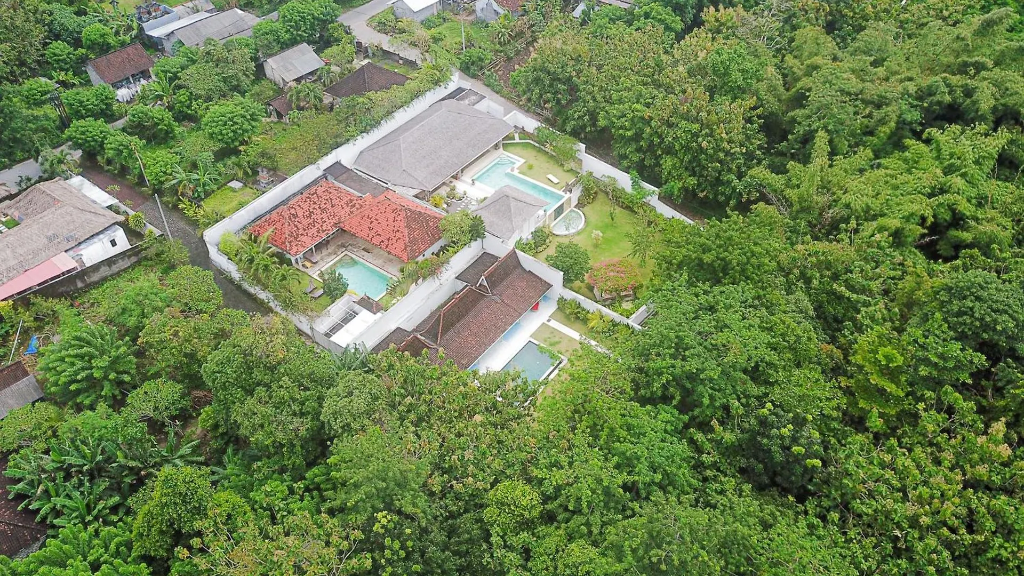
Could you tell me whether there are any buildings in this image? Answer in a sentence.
Yes, there's a building here.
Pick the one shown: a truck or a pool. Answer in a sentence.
There is a pool in the scene.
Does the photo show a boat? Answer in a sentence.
No, the scene contains no boat.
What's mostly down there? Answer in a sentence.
What you mostly see from above here is trees.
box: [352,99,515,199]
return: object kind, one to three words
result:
house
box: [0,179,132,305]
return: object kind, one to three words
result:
house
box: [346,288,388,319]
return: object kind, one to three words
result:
building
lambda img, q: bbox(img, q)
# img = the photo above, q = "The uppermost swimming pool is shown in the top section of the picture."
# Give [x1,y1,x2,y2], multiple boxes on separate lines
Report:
[465,152,571,215]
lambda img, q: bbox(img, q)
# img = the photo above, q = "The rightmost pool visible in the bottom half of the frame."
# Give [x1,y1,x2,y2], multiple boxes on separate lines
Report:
[491,336,576,399]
